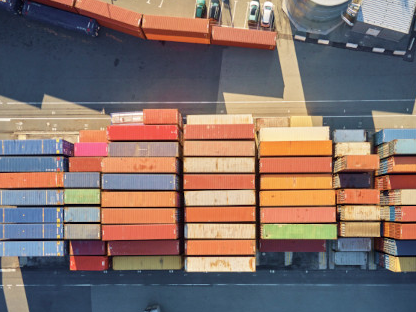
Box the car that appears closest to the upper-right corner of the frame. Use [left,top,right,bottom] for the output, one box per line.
[261,2,274,28]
